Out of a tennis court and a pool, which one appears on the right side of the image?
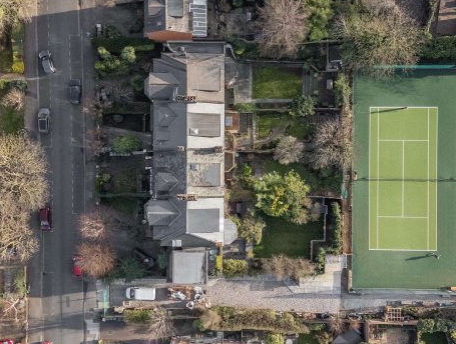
tennis court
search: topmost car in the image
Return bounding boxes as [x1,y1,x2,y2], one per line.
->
[39,50,55,74]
